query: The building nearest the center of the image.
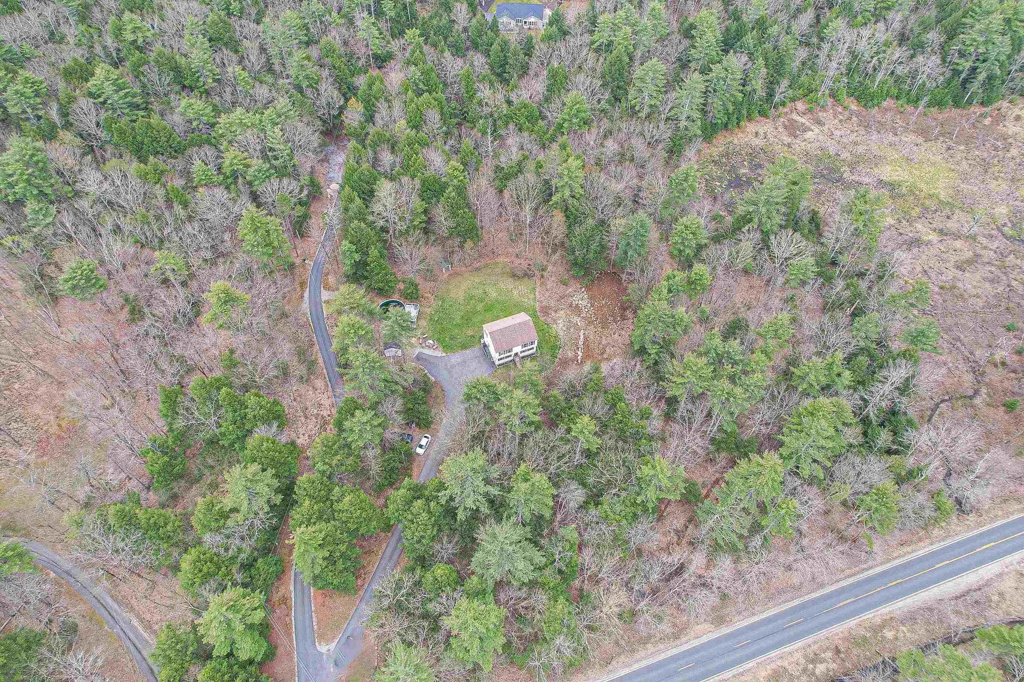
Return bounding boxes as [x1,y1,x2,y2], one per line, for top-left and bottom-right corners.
[481,313,538,371]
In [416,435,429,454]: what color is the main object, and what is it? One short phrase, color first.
white vehicle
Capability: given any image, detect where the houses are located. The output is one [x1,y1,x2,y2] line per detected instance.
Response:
[497,4,545,35]
[481,313,538,371]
